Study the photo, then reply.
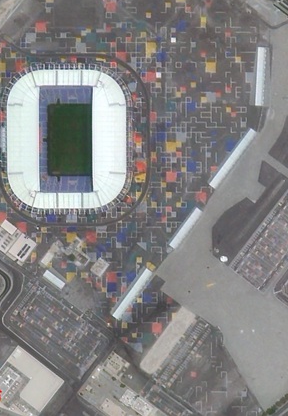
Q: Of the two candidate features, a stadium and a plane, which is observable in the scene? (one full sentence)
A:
Looking from above, you can make out a stadium.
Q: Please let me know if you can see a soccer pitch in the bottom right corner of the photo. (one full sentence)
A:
No, I can find no soccer pitch in the bottom right corner of the photo.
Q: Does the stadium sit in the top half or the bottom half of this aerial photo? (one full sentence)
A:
The stadium is in the top half of the image.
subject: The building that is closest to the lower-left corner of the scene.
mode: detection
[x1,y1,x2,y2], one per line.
[0,368,20,401]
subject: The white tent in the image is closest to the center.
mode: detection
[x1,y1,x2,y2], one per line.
[168,207,203,249]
